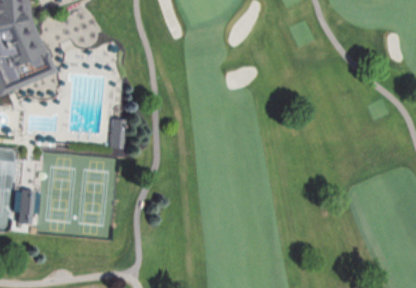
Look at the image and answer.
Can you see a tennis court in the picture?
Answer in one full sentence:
Yes, there is a tennis court in the image.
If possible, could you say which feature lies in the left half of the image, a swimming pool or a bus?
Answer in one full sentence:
What appears in the left half of the image is a swimming pool.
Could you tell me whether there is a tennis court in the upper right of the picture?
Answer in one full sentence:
No, no tennis court appears in the upper right of the picture.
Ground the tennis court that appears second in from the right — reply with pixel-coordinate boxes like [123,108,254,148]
[38,154,80,236]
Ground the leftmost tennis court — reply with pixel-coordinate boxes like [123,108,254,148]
[0,150,15,232]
